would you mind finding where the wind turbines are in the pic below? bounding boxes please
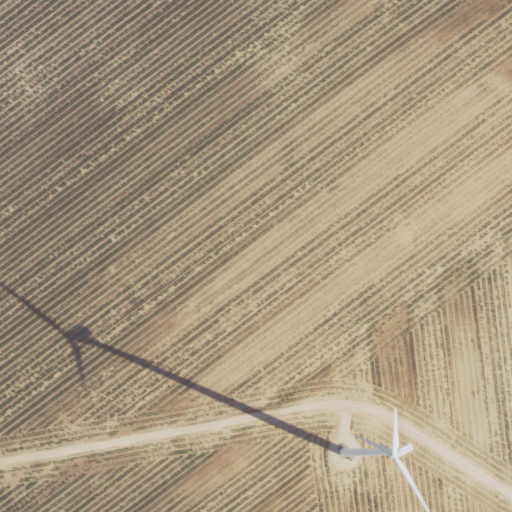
[338,408,432,512]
